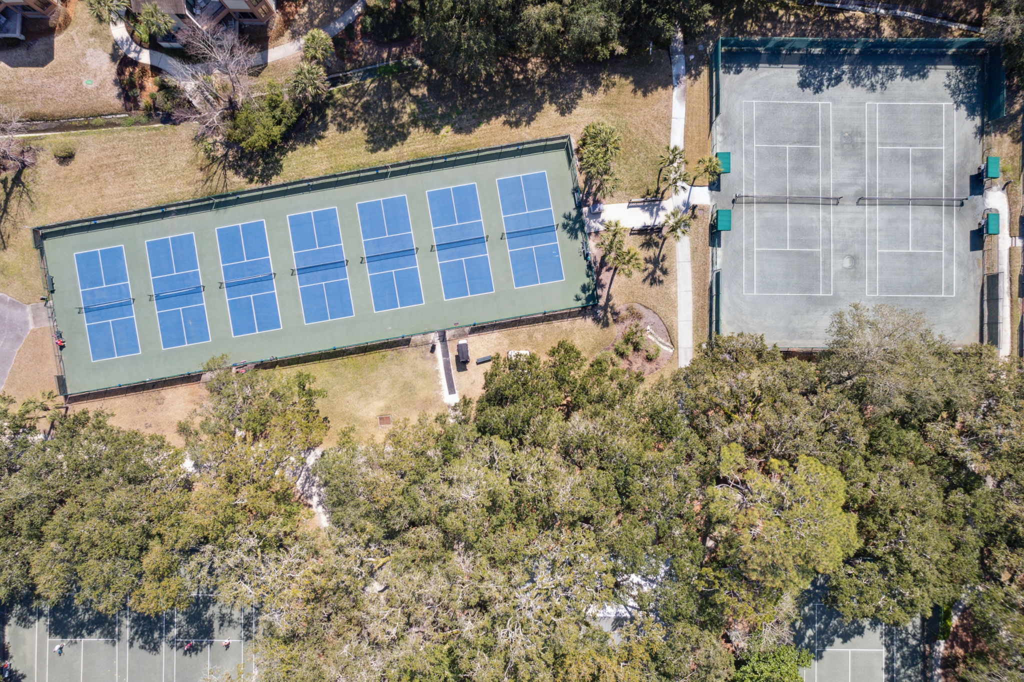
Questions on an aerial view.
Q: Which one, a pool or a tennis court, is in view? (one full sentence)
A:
I can see a tennis court in this picture.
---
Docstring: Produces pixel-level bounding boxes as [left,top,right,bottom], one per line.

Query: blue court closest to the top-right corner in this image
[498,172,564,287]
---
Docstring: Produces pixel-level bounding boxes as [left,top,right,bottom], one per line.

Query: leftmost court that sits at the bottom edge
[5,547,147,682]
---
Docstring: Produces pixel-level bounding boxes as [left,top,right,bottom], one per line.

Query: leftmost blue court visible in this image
[74,246,141,361]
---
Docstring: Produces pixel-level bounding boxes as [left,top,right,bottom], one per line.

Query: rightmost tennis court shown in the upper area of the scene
[849,53,984,347]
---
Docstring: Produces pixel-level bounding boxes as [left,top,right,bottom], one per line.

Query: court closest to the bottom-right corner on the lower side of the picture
[794,564,923,682]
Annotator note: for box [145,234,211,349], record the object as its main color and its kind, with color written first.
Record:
blue sports court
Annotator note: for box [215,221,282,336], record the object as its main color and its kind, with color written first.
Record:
blue sports court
